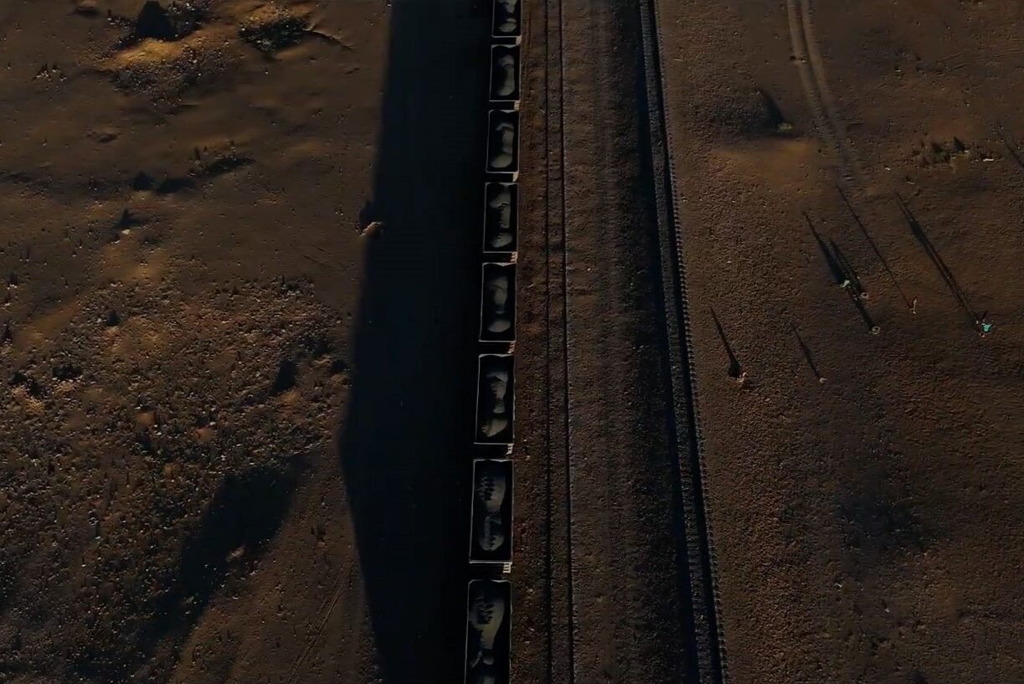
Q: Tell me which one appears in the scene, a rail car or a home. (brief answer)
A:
rail car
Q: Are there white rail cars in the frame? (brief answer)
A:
No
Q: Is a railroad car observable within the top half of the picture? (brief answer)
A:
Yes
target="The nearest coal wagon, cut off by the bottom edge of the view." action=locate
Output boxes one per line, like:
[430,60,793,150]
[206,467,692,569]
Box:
[464,577,511,684]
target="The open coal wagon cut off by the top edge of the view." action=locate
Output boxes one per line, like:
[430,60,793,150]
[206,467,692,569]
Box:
[493,0,523,55]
